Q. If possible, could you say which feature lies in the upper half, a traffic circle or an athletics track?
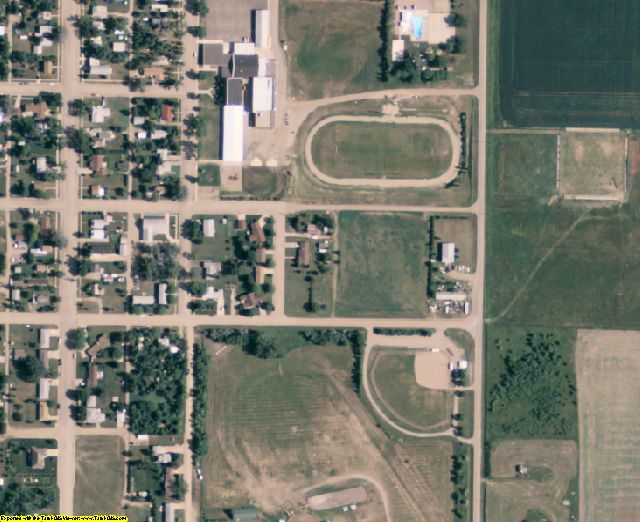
athletics track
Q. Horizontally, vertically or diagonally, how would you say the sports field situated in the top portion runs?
horizontally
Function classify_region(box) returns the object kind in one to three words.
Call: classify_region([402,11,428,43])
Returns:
swimming pool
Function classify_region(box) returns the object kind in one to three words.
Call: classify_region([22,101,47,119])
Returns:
house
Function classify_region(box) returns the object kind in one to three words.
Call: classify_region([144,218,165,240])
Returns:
building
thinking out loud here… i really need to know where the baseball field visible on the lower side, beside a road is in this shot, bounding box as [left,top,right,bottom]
[372,349,453,429]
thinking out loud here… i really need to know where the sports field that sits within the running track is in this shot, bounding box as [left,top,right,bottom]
[312,122,455,180]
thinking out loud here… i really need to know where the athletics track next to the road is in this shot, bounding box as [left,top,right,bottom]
[305,115,462,188]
